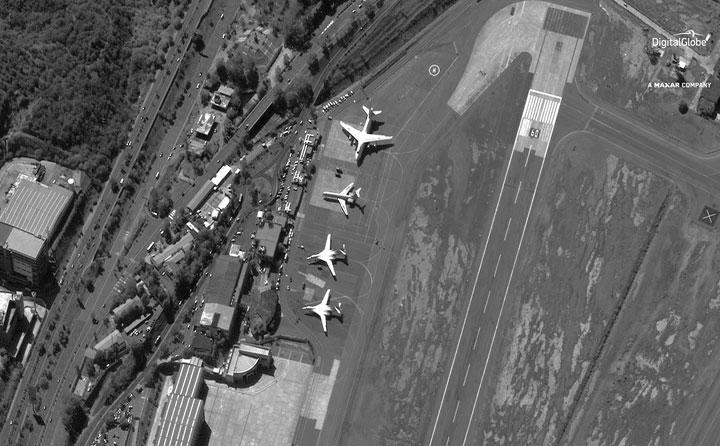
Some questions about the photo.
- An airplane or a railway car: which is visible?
airplane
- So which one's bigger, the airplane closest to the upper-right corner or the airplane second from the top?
the airplane closest to the upper-right corner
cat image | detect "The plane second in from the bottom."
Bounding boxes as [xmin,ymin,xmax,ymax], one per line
[307,234,346,276]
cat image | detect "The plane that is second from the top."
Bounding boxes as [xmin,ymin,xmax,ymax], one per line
[323,182,361,215]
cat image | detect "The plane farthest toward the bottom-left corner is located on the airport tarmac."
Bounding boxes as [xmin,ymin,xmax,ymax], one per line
[302,289,341,331]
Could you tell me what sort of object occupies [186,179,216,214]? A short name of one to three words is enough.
building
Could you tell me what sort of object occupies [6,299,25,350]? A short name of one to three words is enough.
building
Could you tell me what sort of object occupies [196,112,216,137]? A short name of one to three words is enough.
house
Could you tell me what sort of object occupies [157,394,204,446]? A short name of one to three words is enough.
hangar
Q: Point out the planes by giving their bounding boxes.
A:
[302,289,341,331]
[307,234,346,276]
[341,105,393,162]
[323,182,361,215]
